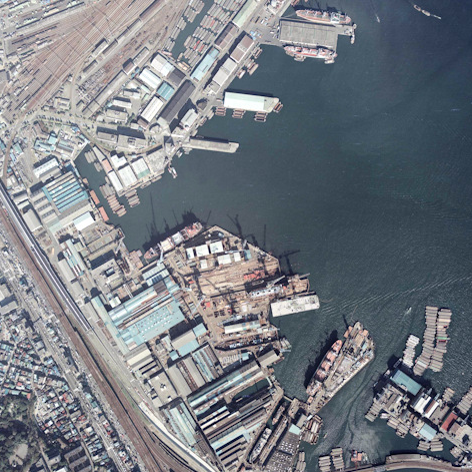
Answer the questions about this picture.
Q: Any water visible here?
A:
Yes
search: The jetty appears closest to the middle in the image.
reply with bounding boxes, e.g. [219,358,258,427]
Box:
[271,295,320,316]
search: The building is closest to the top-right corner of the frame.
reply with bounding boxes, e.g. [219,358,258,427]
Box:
[279,20,337,49]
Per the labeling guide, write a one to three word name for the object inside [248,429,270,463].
ship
